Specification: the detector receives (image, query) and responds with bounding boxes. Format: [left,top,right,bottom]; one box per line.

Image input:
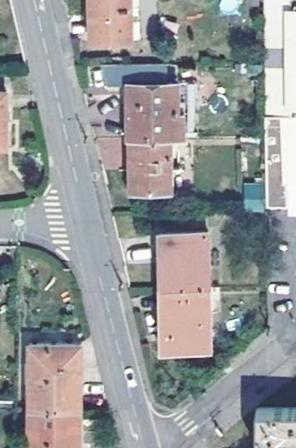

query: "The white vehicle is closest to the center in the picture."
[129,248,152,260]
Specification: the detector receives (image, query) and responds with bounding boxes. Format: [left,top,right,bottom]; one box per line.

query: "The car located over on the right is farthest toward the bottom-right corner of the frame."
[274,299,295,311]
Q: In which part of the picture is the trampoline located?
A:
top right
